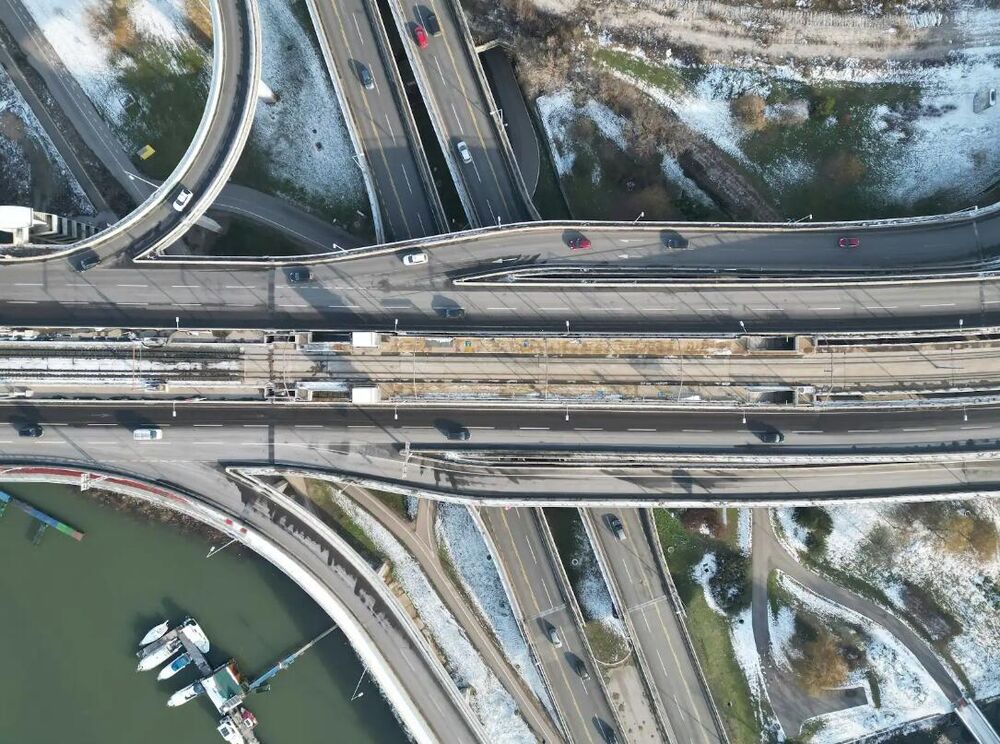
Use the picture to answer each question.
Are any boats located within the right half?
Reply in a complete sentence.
No, there's no boat to be seen within the right half.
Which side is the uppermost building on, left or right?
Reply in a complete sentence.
The uppermost building is on the left side of the image.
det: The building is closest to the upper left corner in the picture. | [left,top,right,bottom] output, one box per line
[0,206,77,243]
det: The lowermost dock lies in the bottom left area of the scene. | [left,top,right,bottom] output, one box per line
[226,707,262,744]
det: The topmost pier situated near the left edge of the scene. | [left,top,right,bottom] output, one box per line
[0,486,85,543]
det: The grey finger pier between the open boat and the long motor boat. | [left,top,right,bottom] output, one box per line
[134,629,181,659]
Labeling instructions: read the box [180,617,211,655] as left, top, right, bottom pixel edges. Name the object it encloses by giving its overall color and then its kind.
white boat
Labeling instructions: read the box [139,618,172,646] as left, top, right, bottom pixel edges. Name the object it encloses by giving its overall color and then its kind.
white boat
